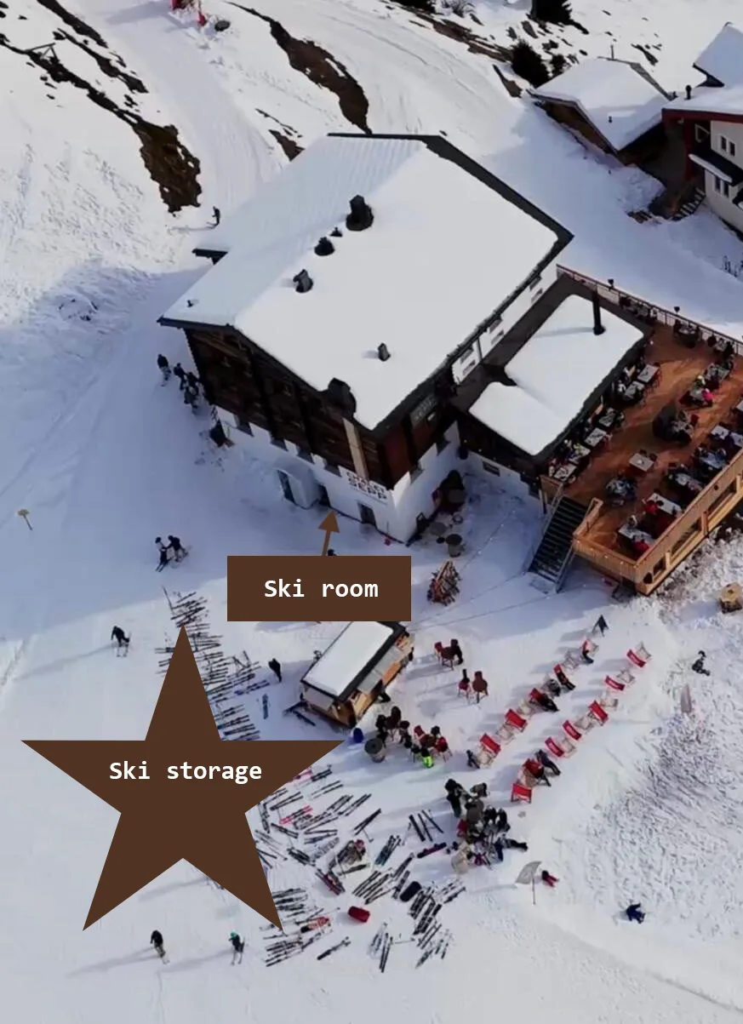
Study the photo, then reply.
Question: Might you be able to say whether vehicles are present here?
No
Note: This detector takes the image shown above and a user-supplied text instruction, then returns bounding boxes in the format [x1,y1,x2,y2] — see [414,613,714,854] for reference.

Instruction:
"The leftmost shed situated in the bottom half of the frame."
[303,610,419,734]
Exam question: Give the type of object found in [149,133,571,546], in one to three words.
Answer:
house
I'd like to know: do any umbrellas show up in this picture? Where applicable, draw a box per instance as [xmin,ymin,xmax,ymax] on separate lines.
[515,863,545,903]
